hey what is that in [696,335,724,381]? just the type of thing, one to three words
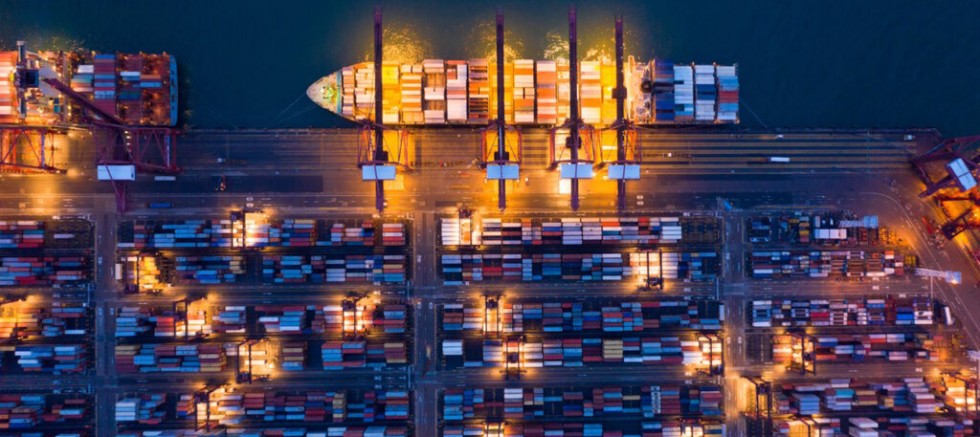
container crane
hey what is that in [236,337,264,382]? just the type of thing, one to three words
container crane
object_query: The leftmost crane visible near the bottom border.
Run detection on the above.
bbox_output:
[193,381,224,427]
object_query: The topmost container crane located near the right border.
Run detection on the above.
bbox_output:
[908,136,980,198]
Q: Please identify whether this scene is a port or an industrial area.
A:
port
